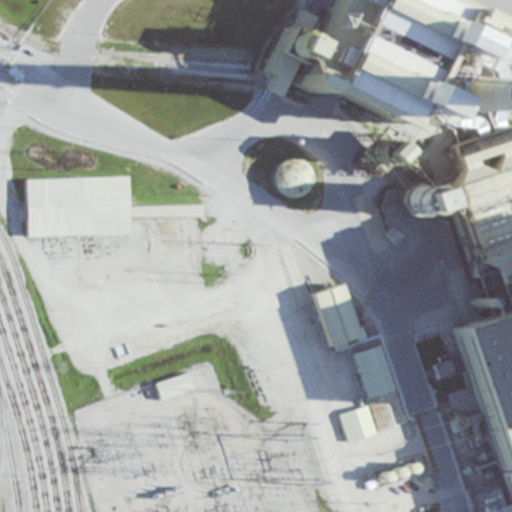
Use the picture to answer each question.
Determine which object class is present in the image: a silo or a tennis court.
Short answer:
silo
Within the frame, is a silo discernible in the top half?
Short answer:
Yes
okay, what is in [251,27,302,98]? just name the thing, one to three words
house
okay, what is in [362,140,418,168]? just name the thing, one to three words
silo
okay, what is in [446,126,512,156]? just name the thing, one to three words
building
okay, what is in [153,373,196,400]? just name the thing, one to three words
building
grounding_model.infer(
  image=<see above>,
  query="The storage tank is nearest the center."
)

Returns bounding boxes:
[267,158,312,200]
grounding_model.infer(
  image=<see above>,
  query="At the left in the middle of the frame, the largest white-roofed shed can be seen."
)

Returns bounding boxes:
[22,176,132,237]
